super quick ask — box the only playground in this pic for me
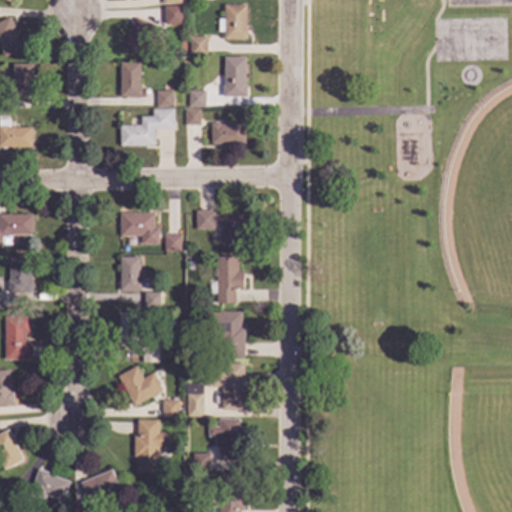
[396,112,434,182]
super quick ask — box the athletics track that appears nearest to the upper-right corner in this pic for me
[439,82,512,310]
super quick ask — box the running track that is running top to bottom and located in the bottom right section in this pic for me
[449,366,512,512]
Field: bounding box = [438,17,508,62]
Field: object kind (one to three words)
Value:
basketball court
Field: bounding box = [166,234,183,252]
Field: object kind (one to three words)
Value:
building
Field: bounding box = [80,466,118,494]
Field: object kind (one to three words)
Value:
house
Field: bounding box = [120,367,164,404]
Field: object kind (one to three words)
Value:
house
